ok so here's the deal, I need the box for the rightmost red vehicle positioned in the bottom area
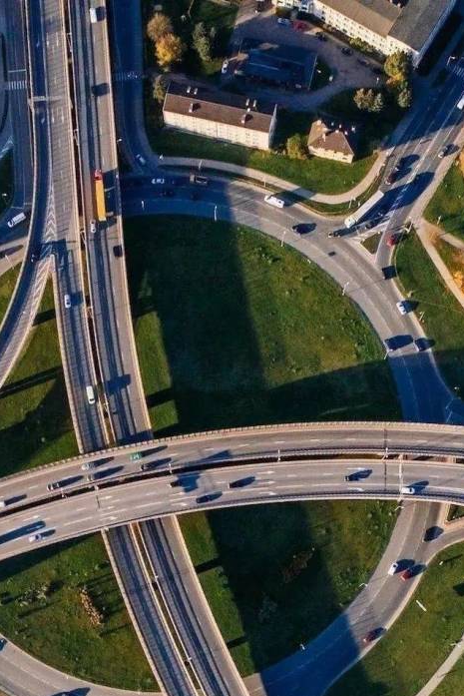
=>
[398,567,411,582]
